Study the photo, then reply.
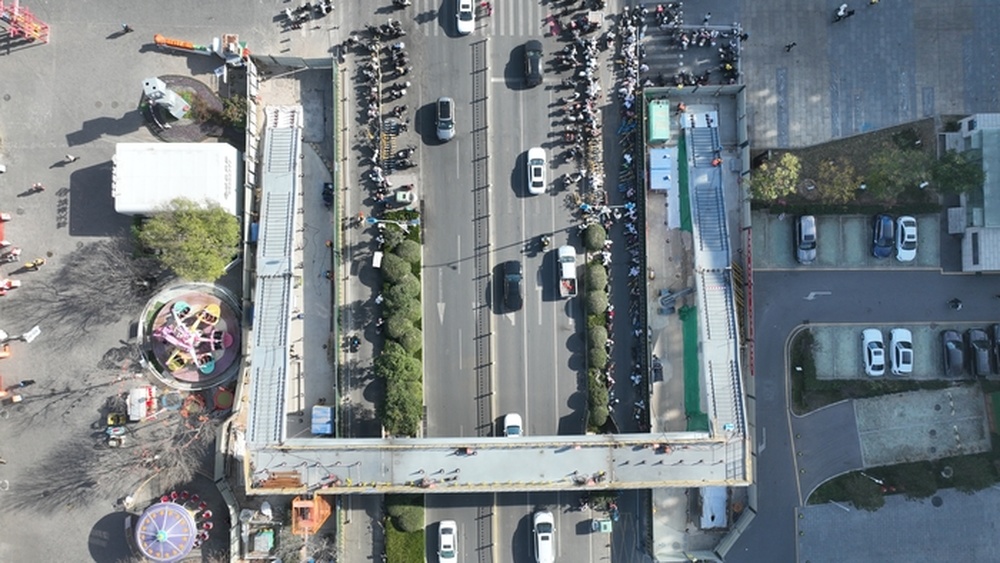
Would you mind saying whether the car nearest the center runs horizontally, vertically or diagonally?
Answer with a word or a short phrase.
vertically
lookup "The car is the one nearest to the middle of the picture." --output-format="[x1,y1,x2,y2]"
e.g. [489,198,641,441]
[501,261,524,313]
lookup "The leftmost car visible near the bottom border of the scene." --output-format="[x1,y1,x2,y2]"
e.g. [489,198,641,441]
[436,518,459,563]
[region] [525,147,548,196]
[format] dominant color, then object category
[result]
white car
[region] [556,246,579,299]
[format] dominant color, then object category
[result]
white vehicle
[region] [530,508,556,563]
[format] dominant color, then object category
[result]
white car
